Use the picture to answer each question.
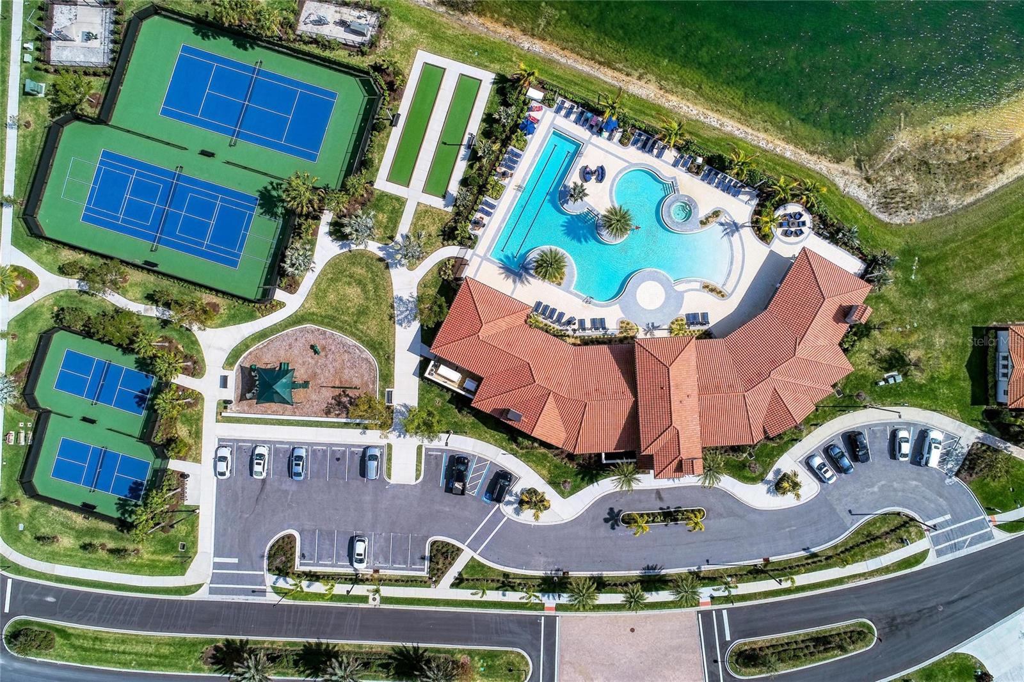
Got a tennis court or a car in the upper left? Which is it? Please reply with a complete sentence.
Visible in the upper left is a tennis court.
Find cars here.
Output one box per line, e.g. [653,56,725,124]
[490,470,513,504]
[825,442,852,475]
[892,428,911,461]
[215,445,232,479]
[806,453,835,485]
[290,446,307,480]
[848,430,869,464]
[364,446,380,480]
[251,445,268,479]
[919,427,942,469]
[352,535,368,568]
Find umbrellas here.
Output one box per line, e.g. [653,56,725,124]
[519,120,536,137]
[602,117,618,133]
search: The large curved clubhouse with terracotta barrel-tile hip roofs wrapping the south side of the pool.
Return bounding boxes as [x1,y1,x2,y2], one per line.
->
[430,246,874,479]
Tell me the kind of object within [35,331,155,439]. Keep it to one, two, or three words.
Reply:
sports court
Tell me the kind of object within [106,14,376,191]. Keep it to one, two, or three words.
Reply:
tennis court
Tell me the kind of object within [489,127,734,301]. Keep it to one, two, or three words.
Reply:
swimming pool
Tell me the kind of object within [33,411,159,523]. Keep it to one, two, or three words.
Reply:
sports court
